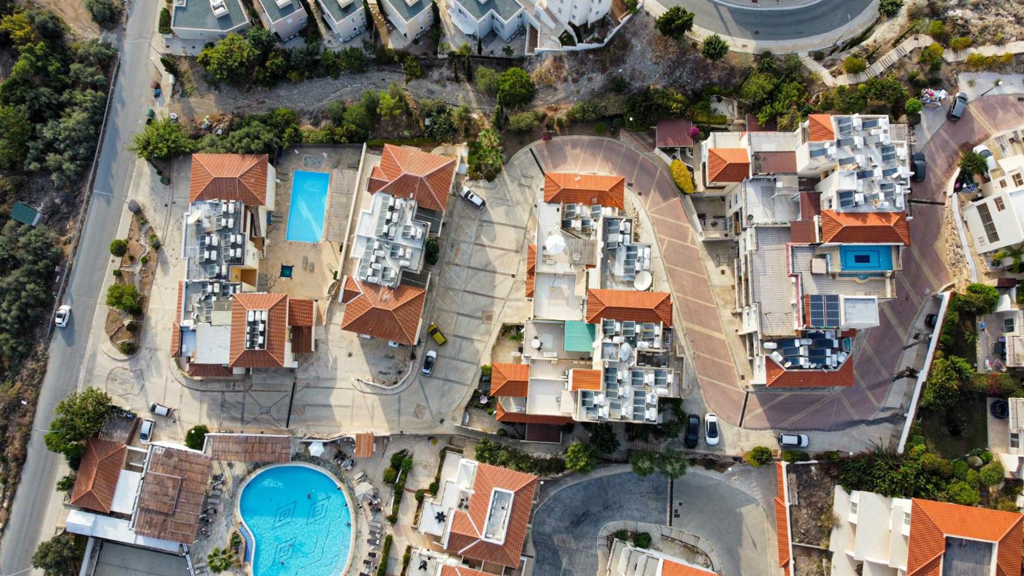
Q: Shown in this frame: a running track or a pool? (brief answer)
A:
pool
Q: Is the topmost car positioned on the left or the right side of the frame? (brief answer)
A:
right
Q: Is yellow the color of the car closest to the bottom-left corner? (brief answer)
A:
No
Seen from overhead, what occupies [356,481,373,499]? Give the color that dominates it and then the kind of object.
white umbrella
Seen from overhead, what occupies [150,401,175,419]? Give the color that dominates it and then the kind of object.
white car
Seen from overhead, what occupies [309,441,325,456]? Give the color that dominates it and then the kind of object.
white umbrella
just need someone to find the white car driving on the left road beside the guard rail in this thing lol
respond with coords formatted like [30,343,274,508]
[54,303,72,329]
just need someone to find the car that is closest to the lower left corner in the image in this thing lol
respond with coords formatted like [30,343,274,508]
[137,415,157,447]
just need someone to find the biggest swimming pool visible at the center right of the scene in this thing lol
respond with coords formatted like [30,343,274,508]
[838,244,896,273]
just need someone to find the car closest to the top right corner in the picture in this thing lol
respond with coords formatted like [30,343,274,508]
[947,91,969,121]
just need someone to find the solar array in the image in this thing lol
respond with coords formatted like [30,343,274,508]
[811,295,839,327]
